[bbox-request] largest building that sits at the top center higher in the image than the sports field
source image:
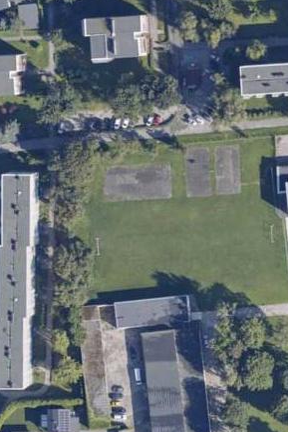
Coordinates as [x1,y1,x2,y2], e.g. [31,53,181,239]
[83,15,153,67]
